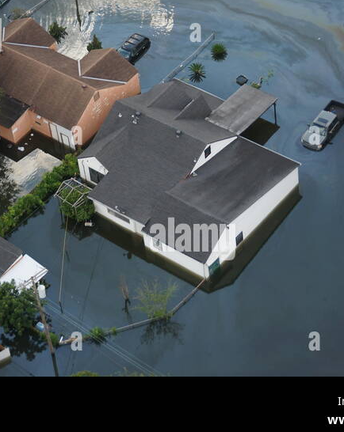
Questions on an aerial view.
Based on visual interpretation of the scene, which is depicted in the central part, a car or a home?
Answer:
home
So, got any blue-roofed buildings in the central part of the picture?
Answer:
No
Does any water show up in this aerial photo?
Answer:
Yes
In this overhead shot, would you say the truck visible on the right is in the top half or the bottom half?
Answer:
top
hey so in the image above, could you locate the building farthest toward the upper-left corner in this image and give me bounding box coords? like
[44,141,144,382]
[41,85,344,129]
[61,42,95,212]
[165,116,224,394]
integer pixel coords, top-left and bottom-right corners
[0,15,144,151]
